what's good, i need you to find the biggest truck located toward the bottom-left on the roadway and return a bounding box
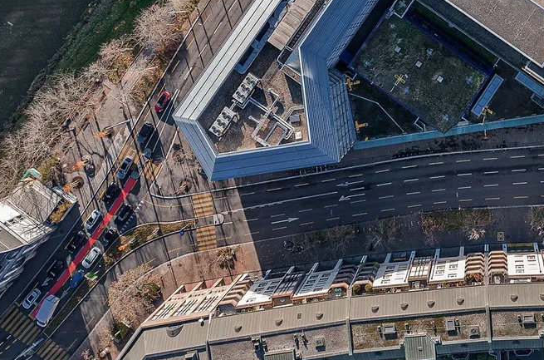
[35,289,61,323]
